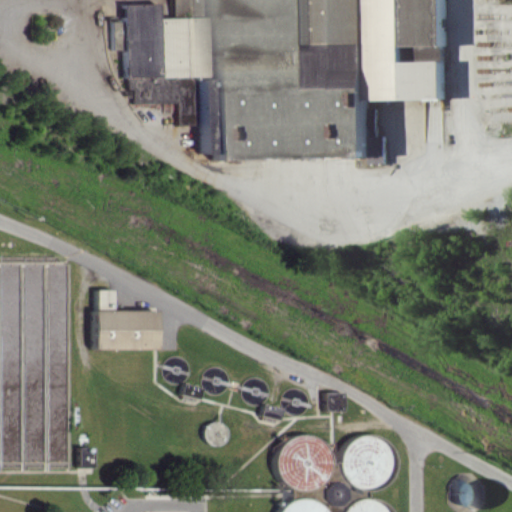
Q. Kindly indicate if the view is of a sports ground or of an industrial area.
industrial area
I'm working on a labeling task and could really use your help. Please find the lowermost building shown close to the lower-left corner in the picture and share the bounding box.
[82,446,98,468]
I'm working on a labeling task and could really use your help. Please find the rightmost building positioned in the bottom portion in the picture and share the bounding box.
[328,392,349,412]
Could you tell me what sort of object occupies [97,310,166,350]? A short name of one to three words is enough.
building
